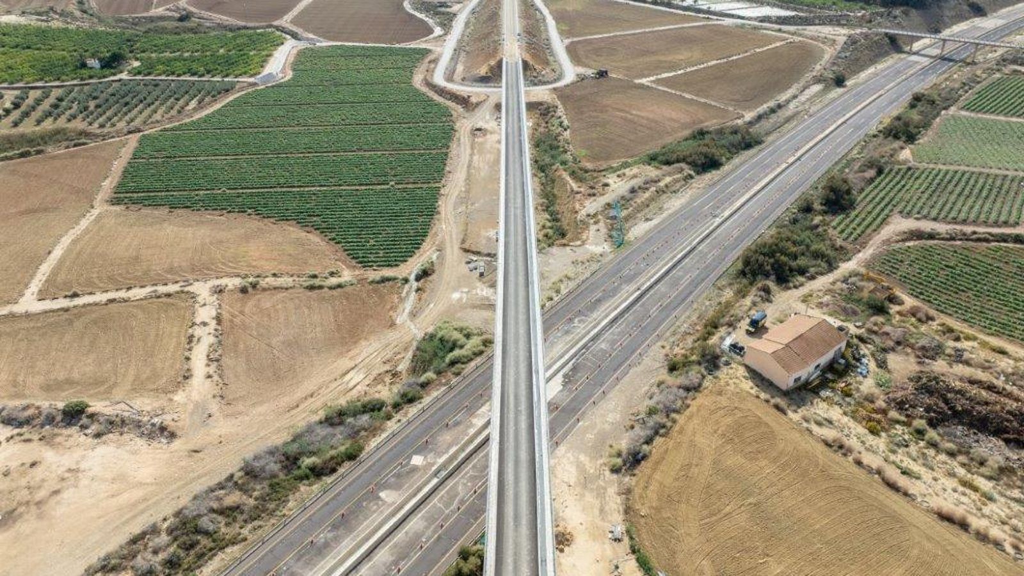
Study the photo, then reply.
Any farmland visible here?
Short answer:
Yes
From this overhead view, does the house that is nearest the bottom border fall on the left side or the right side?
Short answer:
right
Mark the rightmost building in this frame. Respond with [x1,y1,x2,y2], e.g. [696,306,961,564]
[743,314,851,391]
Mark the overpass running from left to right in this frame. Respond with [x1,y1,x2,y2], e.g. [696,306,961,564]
[857,28,1024,59]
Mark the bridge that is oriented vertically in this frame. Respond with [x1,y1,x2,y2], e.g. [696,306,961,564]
[484,59,557,576]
